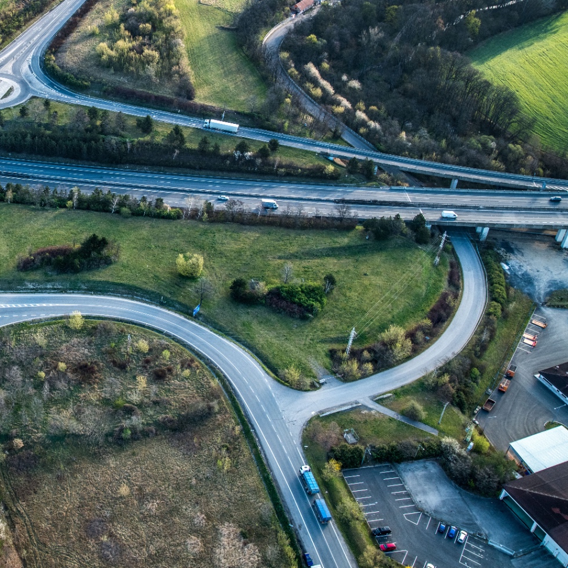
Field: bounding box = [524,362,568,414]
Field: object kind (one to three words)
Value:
building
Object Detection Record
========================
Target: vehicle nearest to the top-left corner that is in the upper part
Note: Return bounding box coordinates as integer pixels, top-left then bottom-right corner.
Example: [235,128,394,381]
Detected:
[203,118,240,132]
